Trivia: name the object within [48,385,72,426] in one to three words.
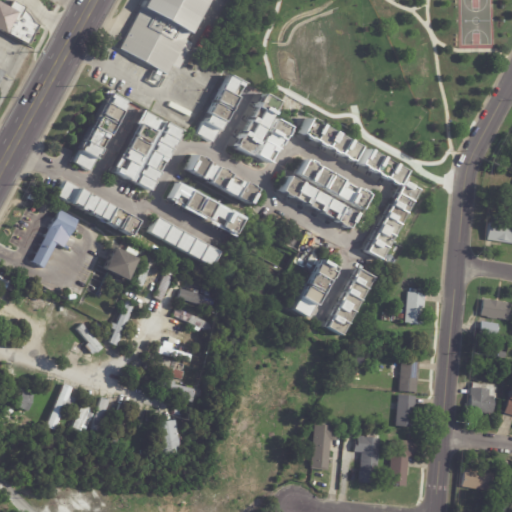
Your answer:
house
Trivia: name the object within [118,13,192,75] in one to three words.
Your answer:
building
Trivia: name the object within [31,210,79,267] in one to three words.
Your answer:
building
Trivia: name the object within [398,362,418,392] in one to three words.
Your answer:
house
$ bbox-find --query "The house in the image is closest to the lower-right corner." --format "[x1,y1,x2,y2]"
[459,472,495,488]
